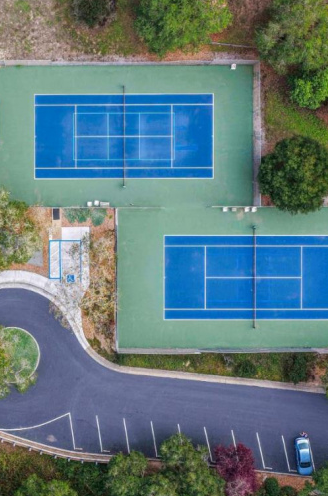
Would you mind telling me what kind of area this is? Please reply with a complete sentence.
What you see here is a sports ground.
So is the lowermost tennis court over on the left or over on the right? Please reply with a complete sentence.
It is on the right.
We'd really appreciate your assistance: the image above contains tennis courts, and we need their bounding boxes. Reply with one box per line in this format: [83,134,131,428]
[119,207,328,350]
[0,65,255,207]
